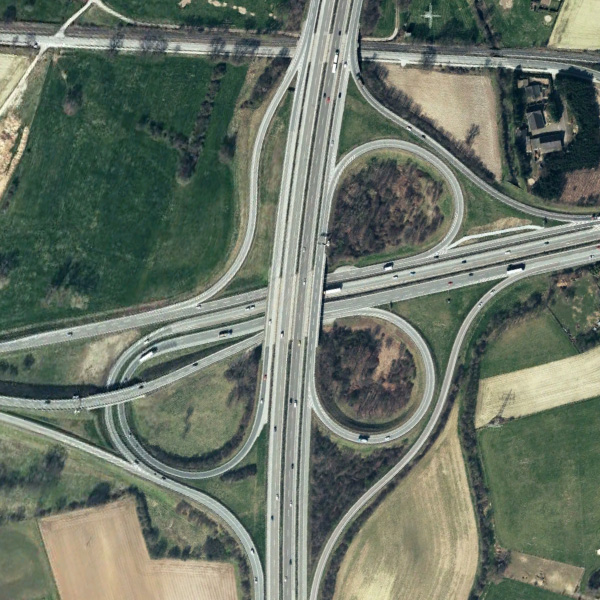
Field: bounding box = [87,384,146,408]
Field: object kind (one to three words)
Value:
overpass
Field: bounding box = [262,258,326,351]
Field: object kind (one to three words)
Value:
overpass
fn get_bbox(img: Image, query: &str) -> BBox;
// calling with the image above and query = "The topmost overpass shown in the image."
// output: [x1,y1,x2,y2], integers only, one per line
[294,22,362,72]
